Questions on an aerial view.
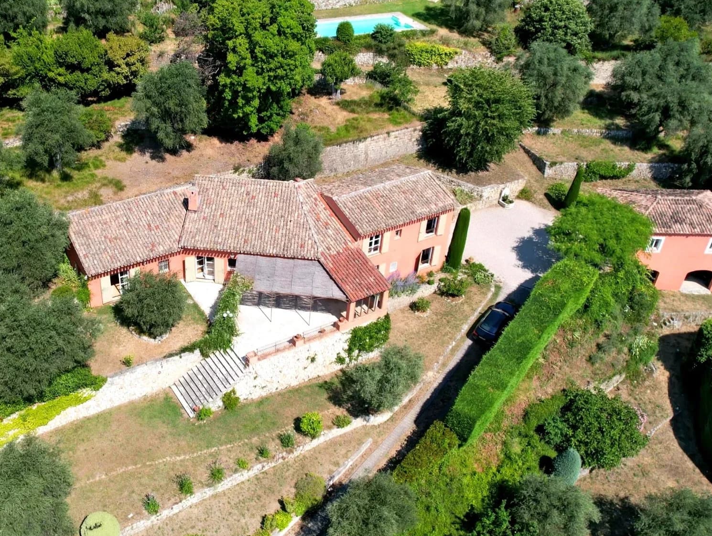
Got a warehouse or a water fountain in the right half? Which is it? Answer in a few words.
water fountain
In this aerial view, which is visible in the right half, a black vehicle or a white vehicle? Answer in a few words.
black vehicle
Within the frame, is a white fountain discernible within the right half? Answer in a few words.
Yes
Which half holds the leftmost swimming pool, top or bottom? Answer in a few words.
top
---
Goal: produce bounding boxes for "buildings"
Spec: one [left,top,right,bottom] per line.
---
[63,161,455,322]
[593,186,712,301]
